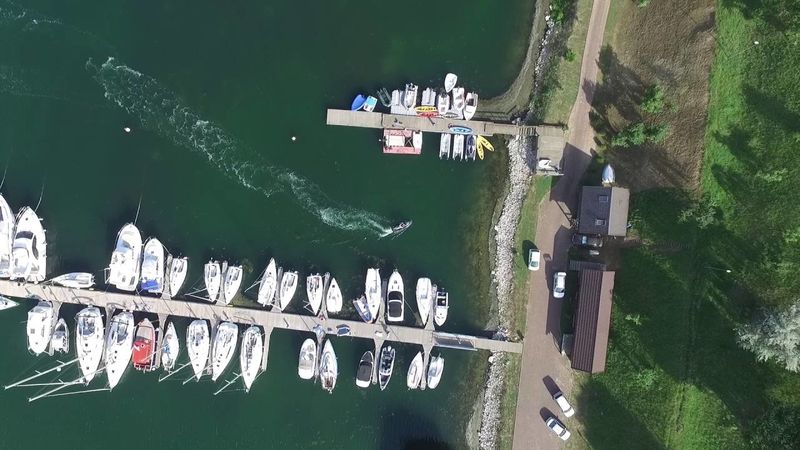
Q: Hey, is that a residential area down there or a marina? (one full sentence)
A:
This image shows a marina.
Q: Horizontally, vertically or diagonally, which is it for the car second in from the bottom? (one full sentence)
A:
From this overhead view, the car second in from the bottom appears to run diagonally.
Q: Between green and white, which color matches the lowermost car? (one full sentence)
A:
In this view, the lowermost car is white.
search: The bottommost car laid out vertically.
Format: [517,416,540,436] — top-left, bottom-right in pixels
[552,271,566,299]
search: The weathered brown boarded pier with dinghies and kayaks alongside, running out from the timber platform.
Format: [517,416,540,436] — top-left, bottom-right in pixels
[327,109,538,137]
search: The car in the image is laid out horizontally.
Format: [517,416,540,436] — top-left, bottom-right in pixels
[571,234,604,248]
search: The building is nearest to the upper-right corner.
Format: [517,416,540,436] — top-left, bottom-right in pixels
[575,186,631,237]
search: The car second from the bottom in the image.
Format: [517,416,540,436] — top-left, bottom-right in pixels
[552,390,576,418]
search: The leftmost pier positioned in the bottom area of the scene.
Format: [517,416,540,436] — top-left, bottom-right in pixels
[0,255,439,389]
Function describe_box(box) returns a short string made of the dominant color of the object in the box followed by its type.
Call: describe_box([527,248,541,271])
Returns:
white car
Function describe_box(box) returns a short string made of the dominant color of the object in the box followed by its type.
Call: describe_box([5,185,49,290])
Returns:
white boat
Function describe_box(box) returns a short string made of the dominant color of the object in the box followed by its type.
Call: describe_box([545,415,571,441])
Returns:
white car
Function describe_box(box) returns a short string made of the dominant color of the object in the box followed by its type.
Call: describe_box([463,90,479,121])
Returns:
white boat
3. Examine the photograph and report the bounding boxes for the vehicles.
[545,415,571,441]
[552,390,576,418]
[552,271,566,299]
[571,234,604,248]
[527,248,541,271]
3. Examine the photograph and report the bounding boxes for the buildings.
[570,269,616,376]
[575,186,631,237]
